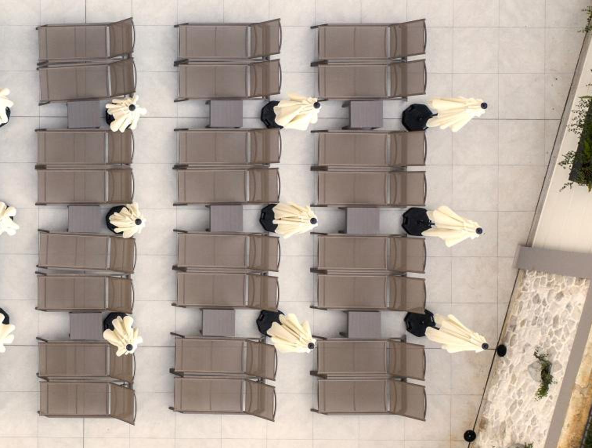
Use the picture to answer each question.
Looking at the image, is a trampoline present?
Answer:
No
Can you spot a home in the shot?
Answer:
No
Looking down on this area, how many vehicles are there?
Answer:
0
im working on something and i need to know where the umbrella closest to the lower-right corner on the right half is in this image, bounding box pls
[405,311,489,352]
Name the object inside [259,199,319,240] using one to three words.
umbrella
